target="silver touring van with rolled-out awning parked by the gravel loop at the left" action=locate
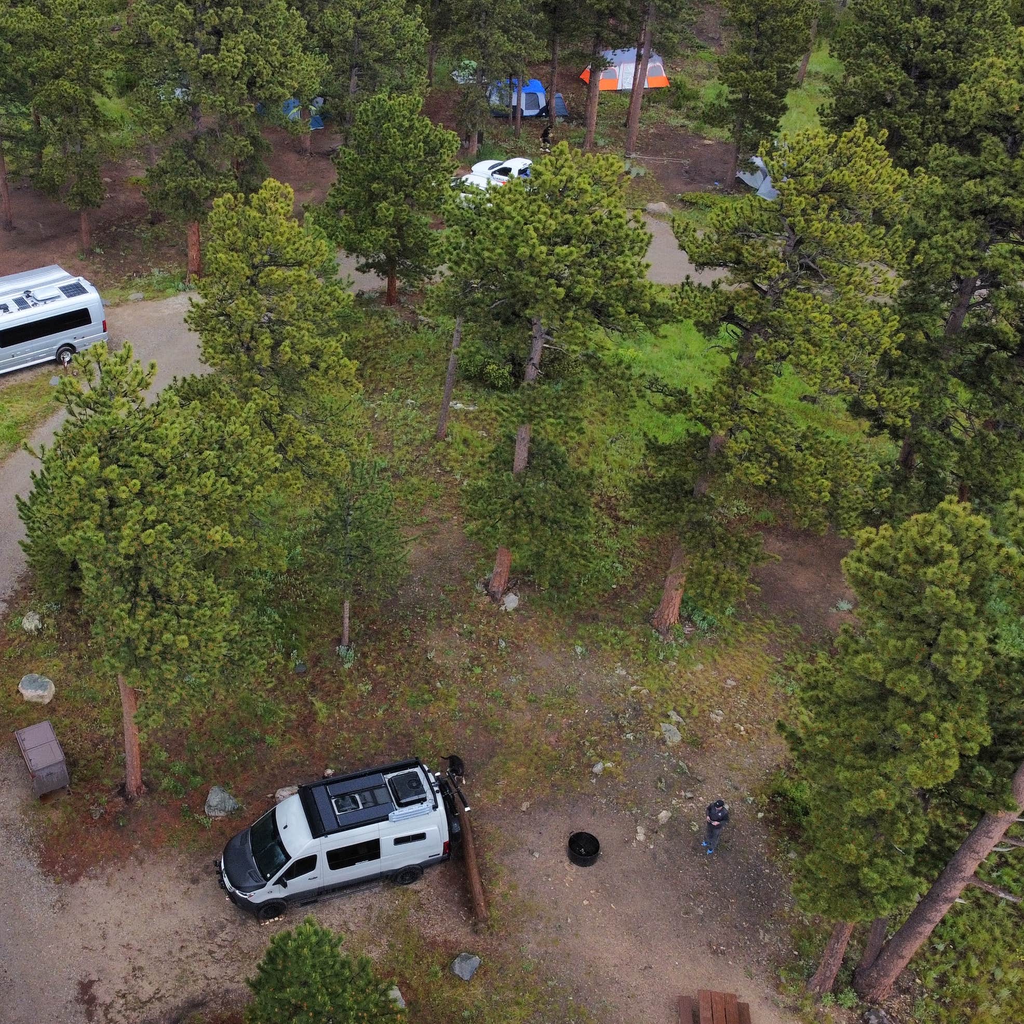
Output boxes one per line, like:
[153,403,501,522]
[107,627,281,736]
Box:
[0,286,108,376]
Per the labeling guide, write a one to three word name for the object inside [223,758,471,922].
van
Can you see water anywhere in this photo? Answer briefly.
No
